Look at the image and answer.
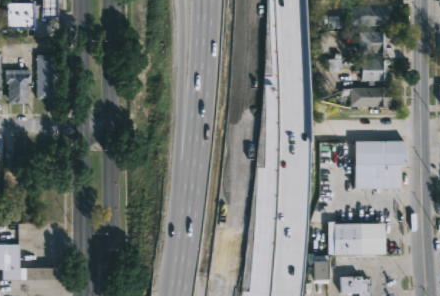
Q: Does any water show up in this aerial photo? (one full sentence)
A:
No, the picture contains no water.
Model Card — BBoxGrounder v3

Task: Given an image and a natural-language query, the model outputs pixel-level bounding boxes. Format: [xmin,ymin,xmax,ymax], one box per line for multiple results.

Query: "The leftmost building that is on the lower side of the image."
[0,244,28,280]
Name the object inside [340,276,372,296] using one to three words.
building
